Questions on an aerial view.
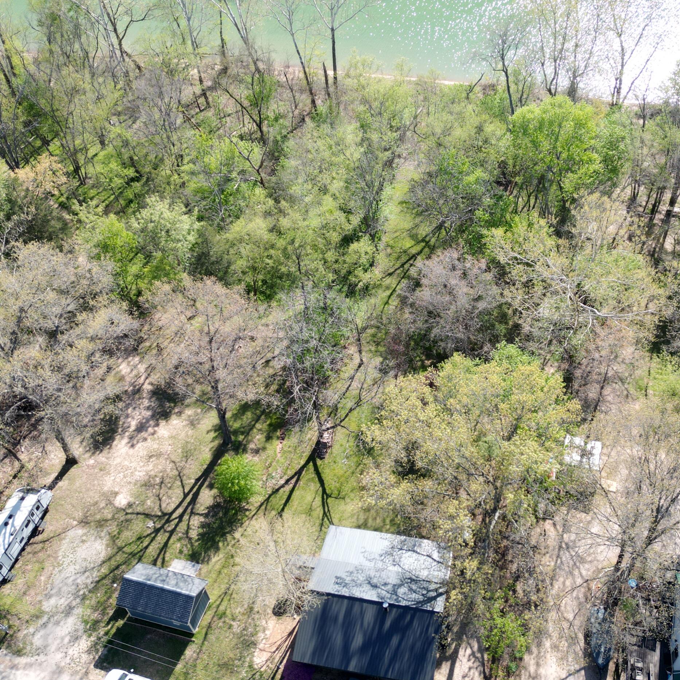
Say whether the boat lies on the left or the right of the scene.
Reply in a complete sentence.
The boat sits on the right side.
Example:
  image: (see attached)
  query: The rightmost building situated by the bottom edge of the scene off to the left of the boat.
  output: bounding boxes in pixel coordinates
[285,527,454,680]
